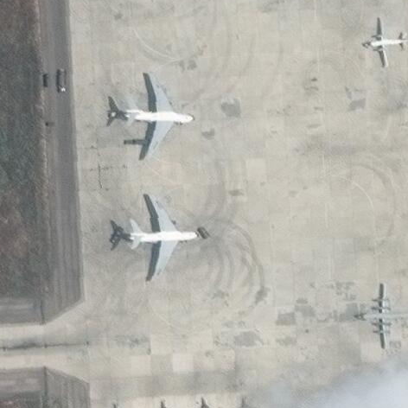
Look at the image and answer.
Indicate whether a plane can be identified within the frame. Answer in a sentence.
Yes, a plane can be made out from above.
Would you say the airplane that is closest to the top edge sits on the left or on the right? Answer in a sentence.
You can find the airplane that is closest to the top edge on the right side of the picture.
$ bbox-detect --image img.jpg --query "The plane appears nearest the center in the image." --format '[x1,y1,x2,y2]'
[120,192,196,279]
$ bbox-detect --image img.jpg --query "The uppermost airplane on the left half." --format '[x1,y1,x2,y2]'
[117,73,193,159]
